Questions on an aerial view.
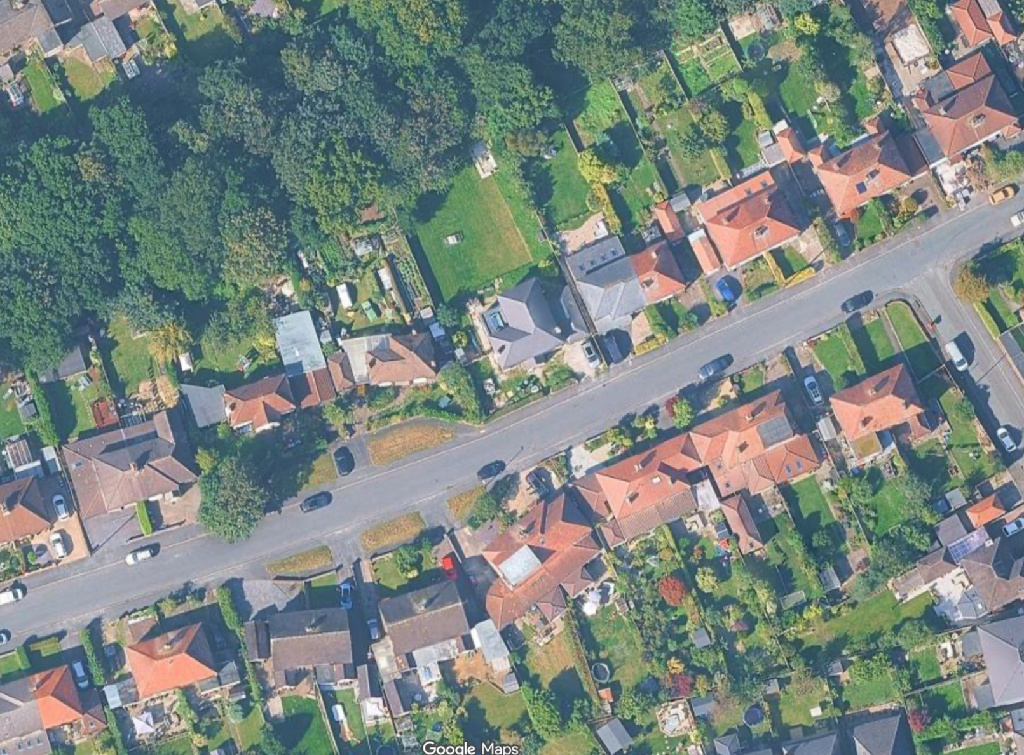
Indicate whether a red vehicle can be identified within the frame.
Yes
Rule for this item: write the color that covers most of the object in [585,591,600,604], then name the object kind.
white umbrella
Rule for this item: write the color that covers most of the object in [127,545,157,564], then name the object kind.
white car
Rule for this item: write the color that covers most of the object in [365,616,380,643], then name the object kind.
blue car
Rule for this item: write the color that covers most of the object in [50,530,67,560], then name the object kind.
white car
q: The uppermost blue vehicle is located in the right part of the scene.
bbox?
[833,218,852,247]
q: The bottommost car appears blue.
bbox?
[71,659,89,689]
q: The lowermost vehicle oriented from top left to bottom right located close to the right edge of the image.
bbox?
[994,423,1020,456]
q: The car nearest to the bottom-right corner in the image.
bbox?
[1000,516,1024,538]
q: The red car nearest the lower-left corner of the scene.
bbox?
[441,552,458,581]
